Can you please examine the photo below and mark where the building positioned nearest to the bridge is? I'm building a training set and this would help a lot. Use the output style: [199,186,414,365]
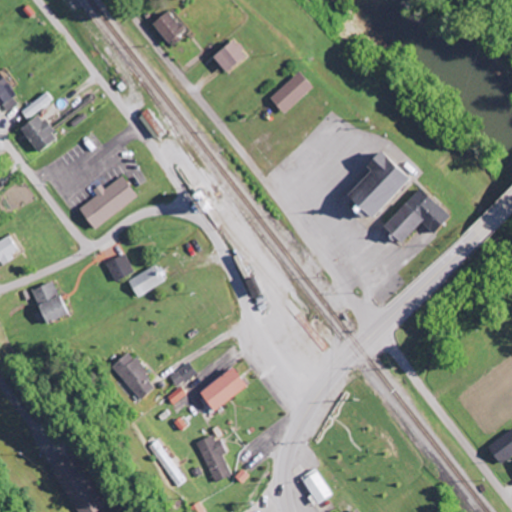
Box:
[384,189,449,243]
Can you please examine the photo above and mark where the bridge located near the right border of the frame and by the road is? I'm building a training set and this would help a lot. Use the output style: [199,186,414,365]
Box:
[460,186,512,251]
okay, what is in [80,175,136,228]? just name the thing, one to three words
building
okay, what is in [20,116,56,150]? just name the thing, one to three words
house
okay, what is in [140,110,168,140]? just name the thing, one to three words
shed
